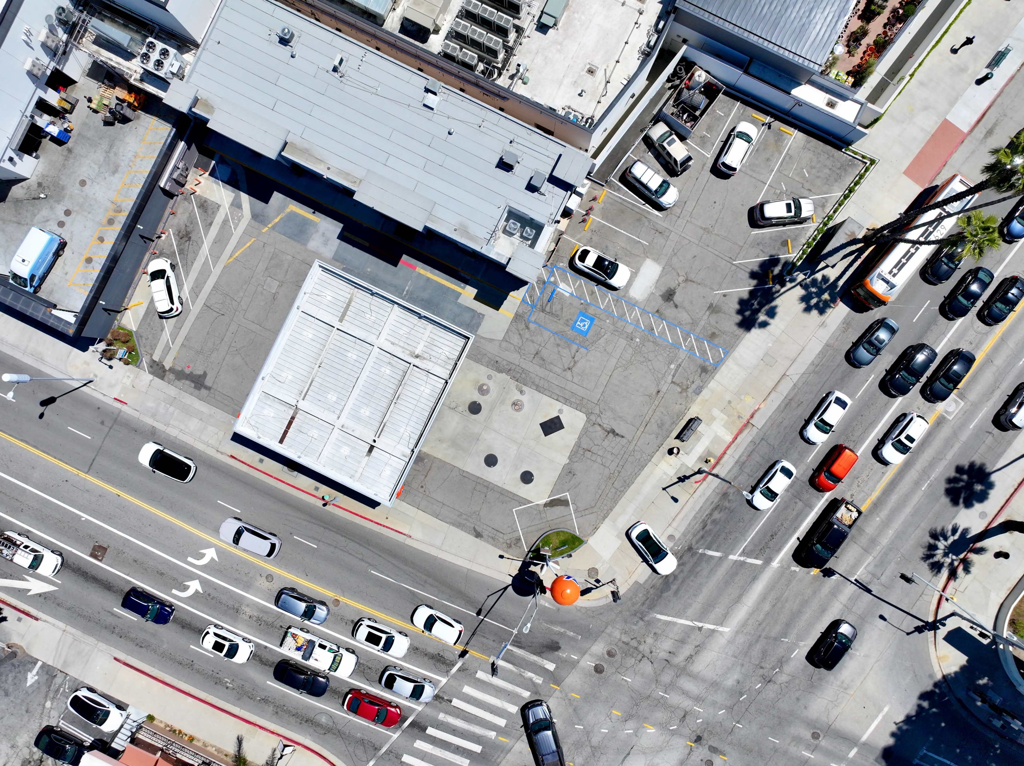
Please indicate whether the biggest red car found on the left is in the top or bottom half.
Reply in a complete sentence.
Seen from above, the biggest red car found on the left lies in the bottom half of the view.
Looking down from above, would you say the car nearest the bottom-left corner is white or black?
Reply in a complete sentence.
The car nearest the bottom-left corner is black.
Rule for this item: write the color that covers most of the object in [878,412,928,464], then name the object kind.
white car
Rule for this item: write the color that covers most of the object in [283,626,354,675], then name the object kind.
white truck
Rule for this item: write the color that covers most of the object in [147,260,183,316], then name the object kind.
white car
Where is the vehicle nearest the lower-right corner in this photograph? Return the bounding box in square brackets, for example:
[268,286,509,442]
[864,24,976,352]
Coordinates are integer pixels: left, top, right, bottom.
[811,618,853,673]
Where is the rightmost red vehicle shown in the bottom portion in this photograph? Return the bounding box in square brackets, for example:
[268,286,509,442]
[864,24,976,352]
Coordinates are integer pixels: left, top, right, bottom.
[812,445,857,491]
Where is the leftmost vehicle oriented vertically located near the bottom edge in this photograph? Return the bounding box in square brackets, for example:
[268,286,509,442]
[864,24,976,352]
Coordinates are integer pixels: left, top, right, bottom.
[525,698,562,766]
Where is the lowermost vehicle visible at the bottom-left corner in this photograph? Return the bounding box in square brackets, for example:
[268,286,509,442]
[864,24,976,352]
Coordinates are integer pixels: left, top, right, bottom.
[33,727,90,766]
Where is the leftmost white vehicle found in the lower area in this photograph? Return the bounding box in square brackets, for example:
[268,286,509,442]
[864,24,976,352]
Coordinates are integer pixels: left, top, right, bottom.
[0,525,62,574]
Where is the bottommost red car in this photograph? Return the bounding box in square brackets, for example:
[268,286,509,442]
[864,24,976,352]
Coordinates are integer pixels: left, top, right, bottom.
[344,687,400,727]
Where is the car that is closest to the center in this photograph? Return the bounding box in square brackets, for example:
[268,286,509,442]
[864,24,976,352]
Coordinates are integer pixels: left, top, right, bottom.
[573,247,629,287]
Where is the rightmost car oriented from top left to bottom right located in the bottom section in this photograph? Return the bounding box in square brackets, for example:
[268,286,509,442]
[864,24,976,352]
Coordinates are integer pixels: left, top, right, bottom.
[629,521,673,574]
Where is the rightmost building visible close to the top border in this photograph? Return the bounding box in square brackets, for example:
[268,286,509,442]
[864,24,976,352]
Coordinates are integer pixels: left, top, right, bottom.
[655,0,867,143]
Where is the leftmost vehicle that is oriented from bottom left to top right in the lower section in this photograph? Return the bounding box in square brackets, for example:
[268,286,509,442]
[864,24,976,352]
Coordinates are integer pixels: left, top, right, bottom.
[750,459,796,510]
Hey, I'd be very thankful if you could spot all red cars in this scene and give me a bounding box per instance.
[812,445,857,491]
[344,687,400,727]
